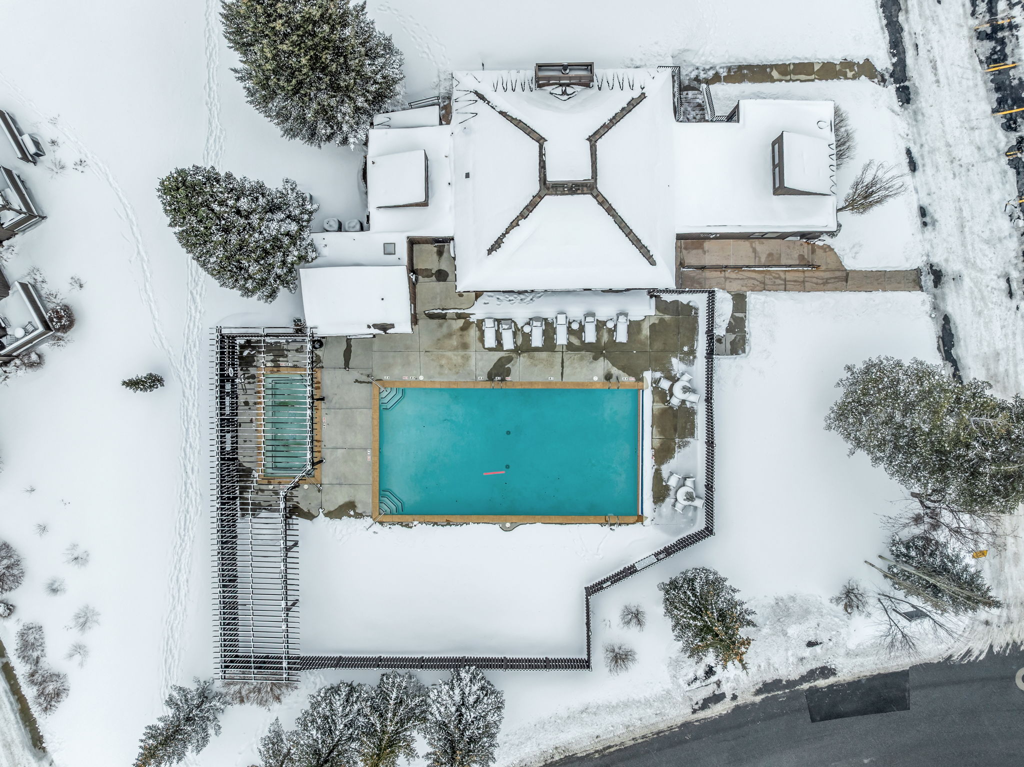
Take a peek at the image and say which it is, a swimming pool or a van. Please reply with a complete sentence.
Of the two, only a swimming pool appears.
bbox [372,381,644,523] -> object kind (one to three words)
swimming pool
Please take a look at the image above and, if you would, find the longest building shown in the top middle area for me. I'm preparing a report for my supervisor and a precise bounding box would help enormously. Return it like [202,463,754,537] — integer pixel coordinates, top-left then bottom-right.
[300,61,836,341]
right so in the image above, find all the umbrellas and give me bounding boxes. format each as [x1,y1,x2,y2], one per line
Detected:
[681,492,695,504]
[677,385,691,397]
